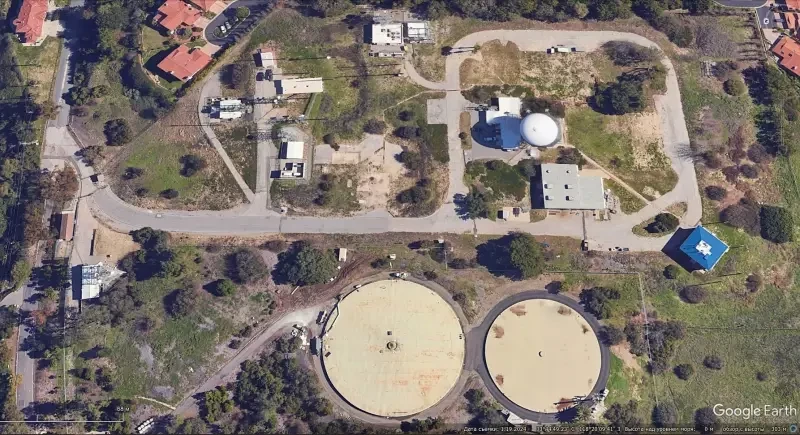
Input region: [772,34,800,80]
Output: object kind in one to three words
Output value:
house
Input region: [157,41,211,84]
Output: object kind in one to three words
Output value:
house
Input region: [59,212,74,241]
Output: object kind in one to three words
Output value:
building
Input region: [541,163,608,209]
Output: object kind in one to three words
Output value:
building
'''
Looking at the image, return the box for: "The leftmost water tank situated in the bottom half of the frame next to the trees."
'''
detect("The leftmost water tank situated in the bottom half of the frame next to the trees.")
[323,278,463,418]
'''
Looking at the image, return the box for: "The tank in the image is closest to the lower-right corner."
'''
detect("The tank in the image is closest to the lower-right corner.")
[485,297,602,414]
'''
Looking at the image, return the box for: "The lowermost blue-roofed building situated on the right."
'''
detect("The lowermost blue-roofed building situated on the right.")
[679,224,730,271]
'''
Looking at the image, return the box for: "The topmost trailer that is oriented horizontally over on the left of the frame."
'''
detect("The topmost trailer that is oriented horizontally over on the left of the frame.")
[281,77,323,94]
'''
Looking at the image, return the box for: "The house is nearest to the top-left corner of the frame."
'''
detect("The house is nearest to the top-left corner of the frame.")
[11,0,46,43]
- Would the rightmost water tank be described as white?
Yes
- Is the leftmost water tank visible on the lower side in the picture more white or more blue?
white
